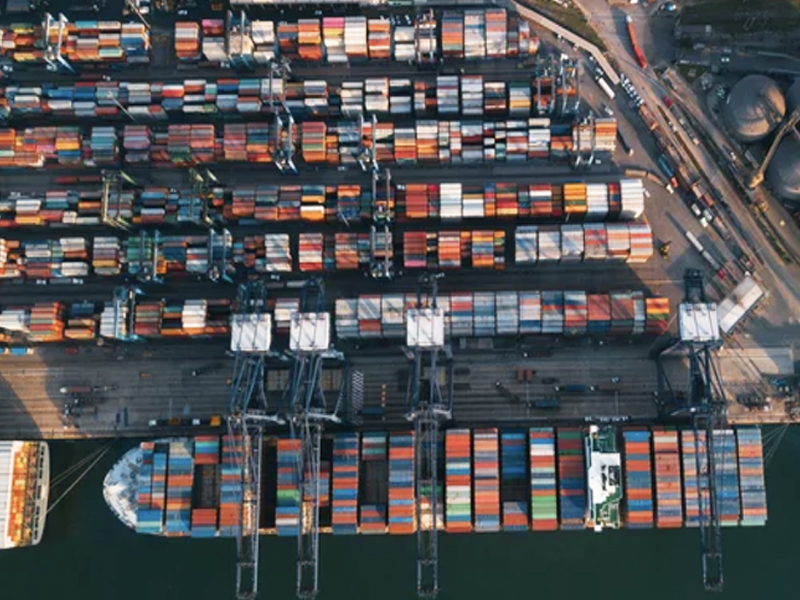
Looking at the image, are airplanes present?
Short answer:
No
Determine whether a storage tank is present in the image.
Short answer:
Yes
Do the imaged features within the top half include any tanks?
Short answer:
Yes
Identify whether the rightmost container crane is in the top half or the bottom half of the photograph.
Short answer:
bottom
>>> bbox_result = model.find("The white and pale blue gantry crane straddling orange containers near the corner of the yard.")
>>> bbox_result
[43,12,78,73]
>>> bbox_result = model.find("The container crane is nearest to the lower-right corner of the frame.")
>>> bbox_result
[646,264,730,600]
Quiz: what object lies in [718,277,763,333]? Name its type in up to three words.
shed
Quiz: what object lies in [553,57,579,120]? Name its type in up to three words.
container crane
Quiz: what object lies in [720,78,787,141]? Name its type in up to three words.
storage tank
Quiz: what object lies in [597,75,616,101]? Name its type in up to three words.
vehicle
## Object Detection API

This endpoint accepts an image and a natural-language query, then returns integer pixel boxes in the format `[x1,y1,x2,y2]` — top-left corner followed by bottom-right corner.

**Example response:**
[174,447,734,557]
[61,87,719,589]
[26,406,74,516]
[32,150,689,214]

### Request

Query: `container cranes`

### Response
[402,273,459,600]
[269,64,295,123]
[373,169,395,226]
[553,57,579,120]
[139,230,172,285]
[371,227,395,282]
[528,60,555,121]
[43,12,78,73]
[359,112,382,172]
[112,289,151,341]
[276,113,302,173]
[209,227,239,281]
[288,277,356,600]
[646,264,730,600]
[102,171,138,227]
[229,8,255,73]
[571,111,595,169]
[228,279,300,600]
